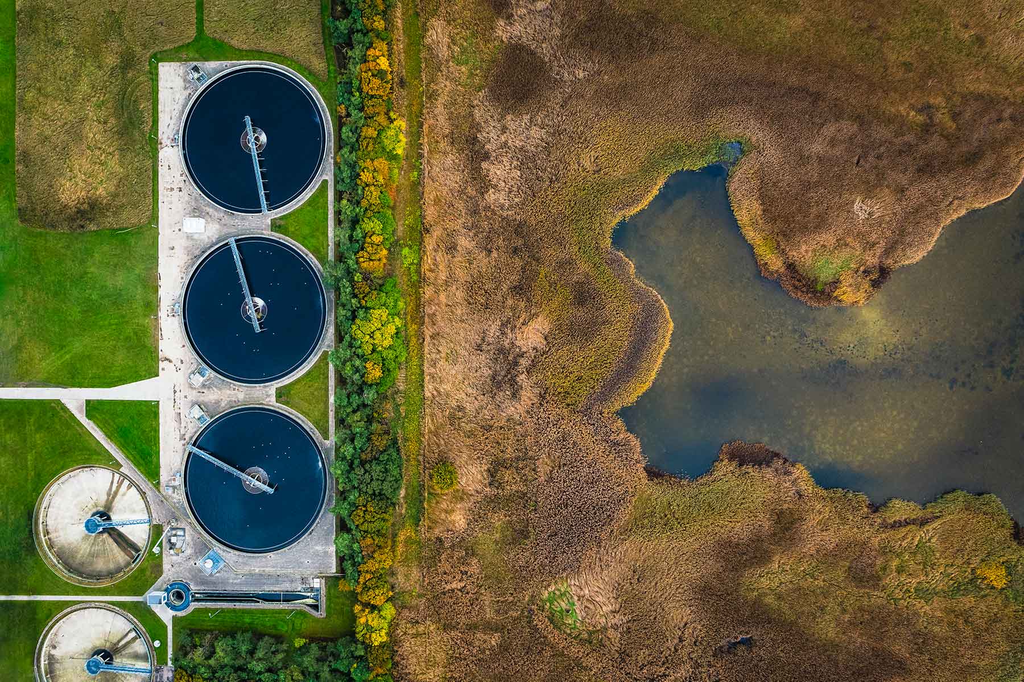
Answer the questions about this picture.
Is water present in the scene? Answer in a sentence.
Yes, some water is visible.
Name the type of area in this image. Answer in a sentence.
This image shows an industrial area.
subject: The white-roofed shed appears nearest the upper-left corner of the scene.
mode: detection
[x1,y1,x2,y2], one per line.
[183,217,208,234]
